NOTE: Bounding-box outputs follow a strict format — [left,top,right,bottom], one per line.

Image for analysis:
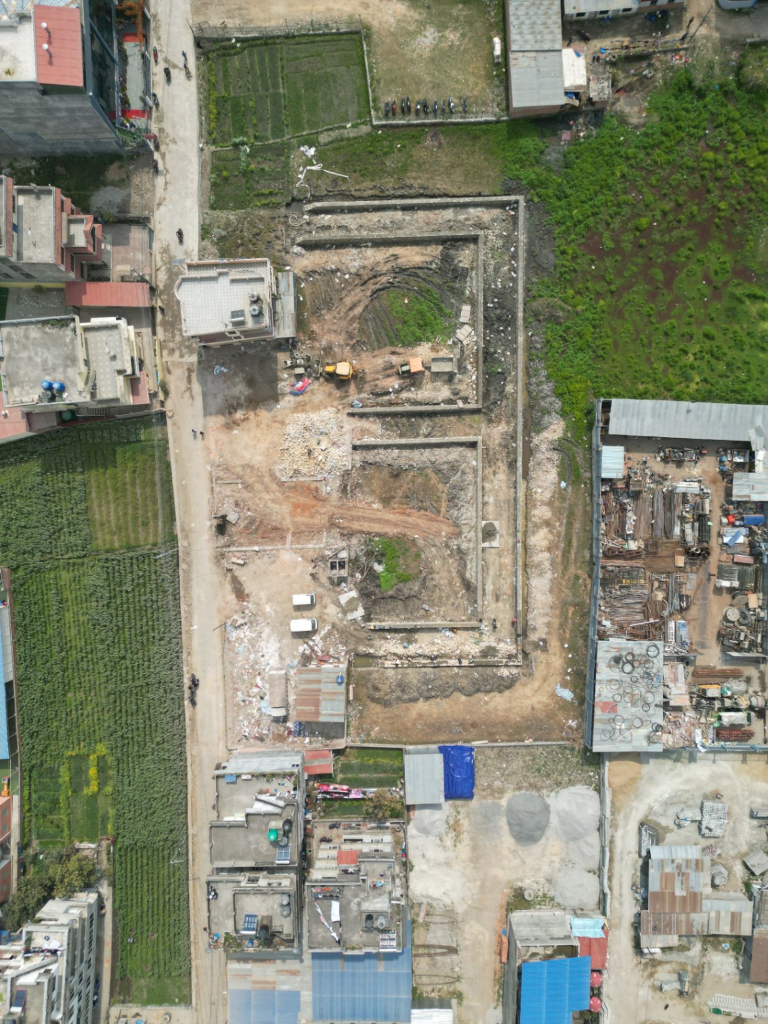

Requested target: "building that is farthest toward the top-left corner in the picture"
[0,0,127,145]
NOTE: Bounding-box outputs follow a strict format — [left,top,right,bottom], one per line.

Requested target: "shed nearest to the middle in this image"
[295,663,347,722]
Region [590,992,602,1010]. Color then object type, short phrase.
pink umbrella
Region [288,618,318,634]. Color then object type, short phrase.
white vehicle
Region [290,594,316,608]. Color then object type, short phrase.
white vehicle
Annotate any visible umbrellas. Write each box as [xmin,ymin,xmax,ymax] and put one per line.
[590,992,602,1010]
[590,969,602,985]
